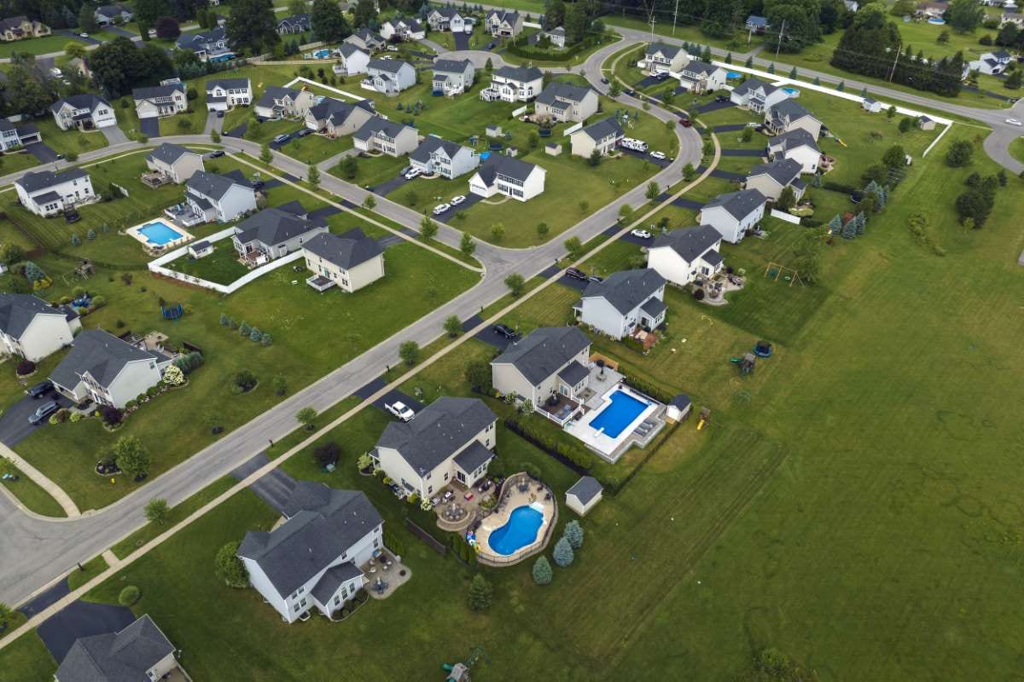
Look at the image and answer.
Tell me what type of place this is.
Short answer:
residential area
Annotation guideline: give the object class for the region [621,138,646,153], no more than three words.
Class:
vehicle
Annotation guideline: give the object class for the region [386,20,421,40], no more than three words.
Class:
house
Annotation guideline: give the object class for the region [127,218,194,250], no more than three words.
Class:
swimming pool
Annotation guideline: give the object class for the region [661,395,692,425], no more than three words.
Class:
shed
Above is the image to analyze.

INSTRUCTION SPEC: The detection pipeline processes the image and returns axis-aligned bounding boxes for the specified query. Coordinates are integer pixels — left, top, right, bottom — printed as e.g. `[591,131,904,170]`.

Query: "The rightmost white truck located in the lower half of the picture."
[384,399,416,420]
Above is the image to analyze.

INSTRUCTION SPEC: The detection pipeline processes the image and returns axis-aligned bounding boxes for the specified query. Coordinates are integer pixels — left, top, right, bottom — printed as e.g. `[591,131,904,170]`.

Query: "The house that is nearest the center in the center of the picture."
[490,320,593,407]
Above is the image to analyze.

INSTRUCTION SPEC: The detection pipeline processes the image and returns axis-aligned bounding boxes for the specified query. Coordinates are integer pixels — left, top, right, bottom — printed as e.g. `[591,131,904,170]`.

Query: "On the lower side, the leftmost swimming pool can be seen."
[475,473,557,562]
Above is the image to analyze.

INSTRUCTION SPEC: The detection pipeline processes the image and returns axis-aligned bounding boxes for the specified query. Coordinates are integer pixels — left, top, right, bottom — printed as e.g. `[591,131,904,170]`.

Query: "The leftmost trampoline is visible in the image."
[159,299,184,320]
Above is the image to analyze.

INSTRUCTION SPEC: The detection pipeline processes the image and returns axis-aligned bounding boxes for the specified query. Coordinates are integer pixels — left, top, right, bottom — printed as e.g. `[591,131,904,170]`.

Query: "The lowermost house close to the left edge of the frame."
[44,614,183,682]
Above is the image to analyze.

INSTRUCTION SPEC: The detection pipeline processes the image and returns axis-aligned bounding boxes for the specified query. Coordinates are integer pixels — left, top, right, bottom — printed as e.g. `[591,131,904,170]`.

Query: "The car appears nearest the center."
[494,322,518,339]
